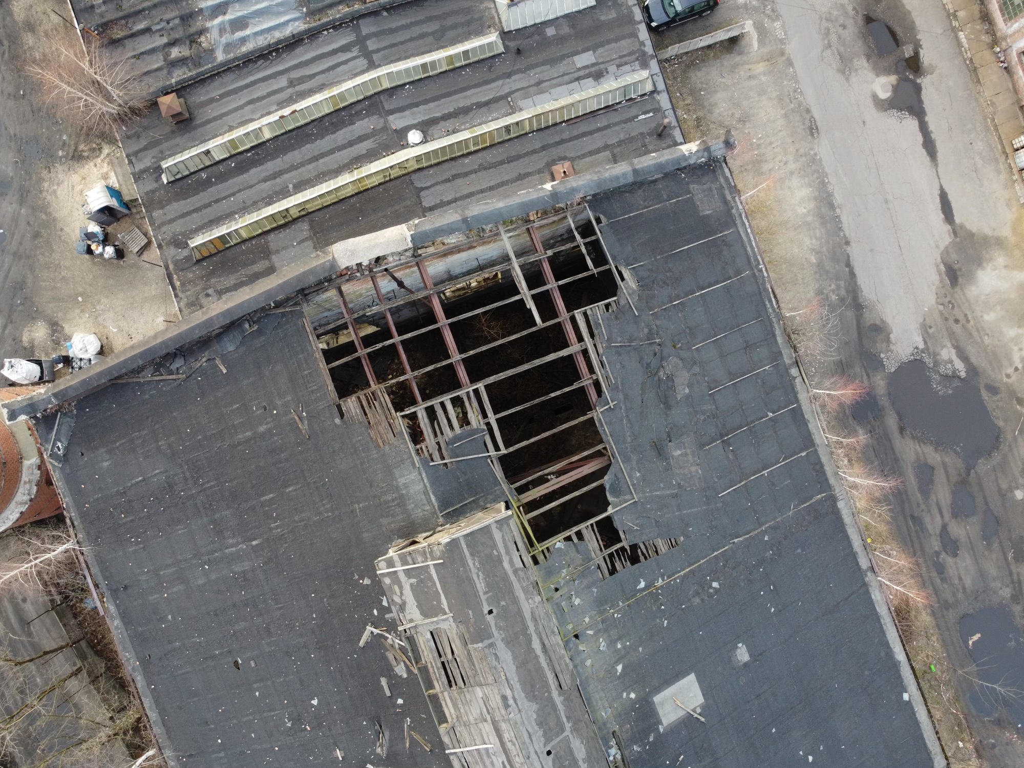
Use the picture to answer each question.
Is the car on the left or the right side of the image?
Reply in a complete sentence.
It is on the right.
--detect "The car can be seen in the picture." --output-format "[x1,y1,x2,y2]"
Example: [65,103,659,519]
[645,0,720,35]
